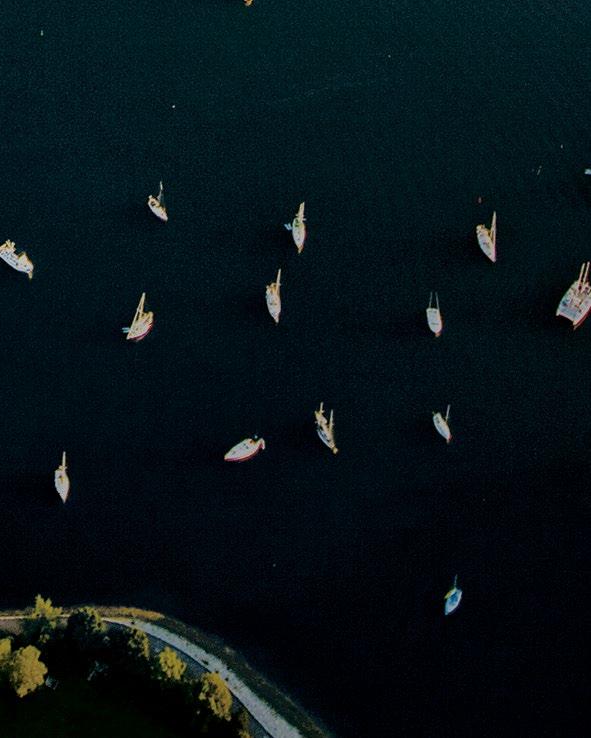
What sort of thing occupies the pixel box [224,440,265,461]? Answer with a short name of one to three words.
boat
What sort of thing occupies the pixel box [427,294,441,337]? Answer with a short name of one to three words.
boat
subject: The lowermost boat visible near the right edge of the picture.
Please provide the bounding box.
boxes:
[558,262,591,325]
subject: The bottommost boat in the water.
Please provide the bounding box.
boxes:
[445,577,463,616]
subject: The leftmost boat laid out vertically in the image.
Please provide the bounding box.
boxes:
[54,451,69,504]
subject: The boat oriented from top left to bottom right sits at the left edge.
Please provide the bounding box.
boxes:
[0,239,34,279]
